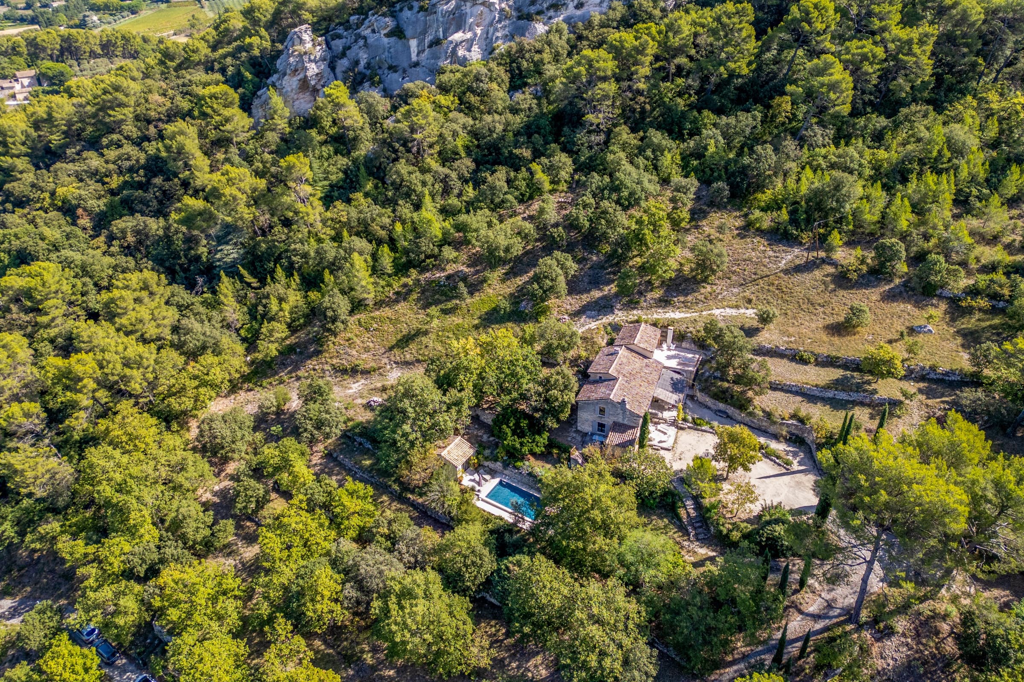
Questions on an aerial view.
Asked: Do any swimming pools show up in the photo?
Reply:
Yes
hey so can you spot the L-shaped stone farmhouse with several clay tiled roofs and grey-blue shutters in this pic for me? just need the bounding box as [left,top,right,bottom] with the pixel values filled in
[575,322,705,460]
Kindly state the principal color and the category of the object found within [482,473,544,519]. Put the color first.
blue swimming pool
